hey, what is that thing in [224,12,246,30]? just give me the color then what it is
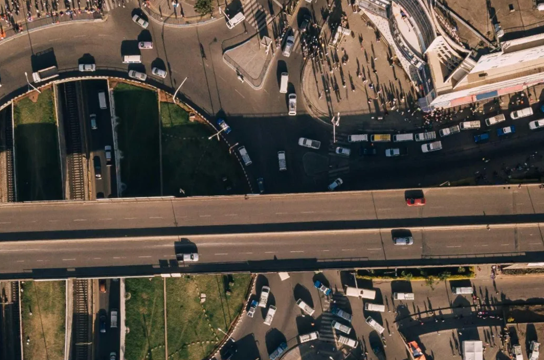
white vehicle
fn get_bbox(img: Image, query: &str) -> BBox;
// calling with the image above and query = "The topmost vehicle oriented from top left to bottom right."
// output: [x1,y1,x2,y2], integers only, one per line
[131,14,151,29]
